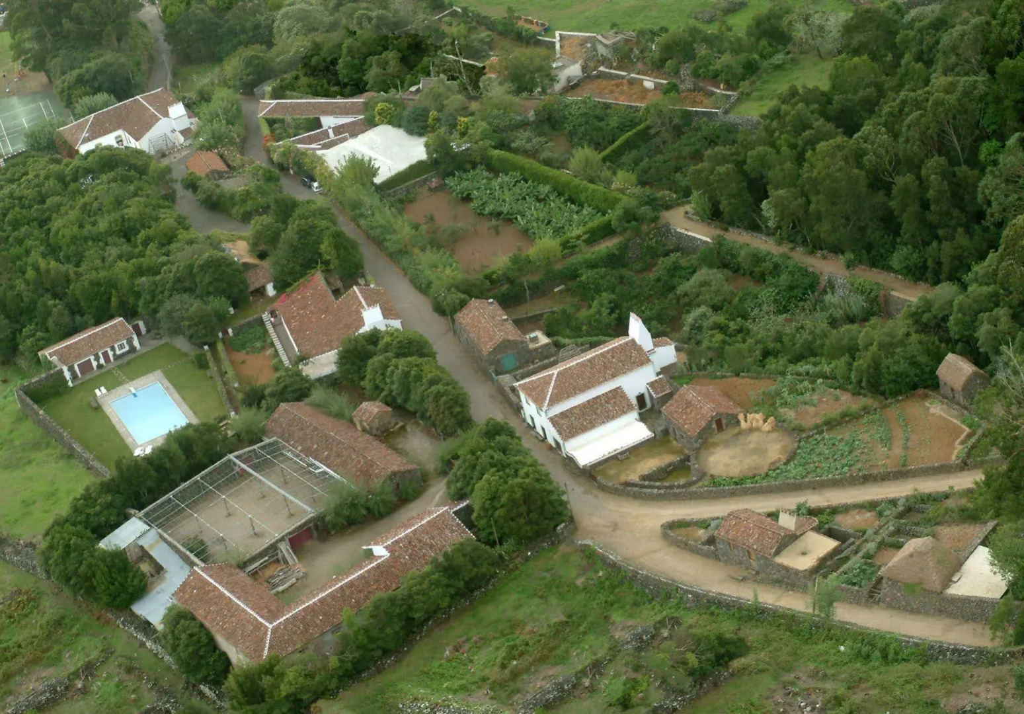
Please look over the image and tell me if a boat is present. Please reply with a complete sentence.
No, there isn't any boat down there.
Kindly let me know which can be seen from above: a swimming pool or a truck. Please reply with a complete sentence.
Visible in the photo is a swimming pool.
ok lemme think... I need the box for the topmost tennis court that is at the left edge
[0,90,69,160]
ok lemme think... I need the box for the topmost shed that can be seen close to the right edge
[936,354,989,408]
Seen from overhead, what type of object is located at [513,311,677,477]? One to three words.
house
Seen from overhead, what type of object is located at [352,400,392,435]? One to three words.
shed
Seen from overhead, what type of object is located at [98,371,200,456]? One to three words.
swimming pool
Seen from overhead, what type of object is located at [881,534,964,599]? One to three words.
barn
